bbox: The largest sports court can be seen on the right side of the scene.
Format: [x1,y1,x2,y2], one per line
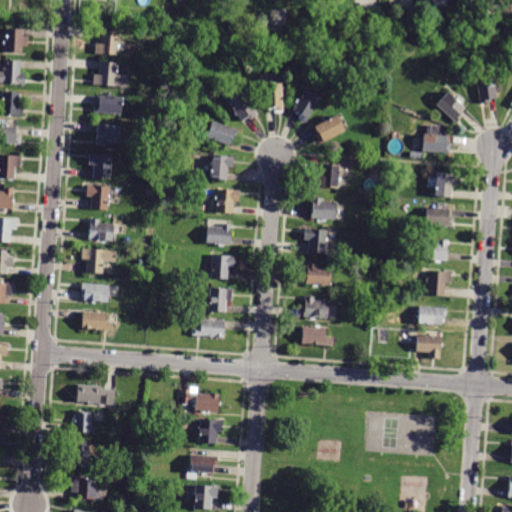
[365,411,436,456]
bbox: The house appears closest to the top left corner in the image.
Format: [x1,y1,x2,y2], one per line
[2,28,28,53]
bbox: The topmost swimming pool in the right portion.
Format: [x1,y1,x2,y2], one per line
[388,138,404,154]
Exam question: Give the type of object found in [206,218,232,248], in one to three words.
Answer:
house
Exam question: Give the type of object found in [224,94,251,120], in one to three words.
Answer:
house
